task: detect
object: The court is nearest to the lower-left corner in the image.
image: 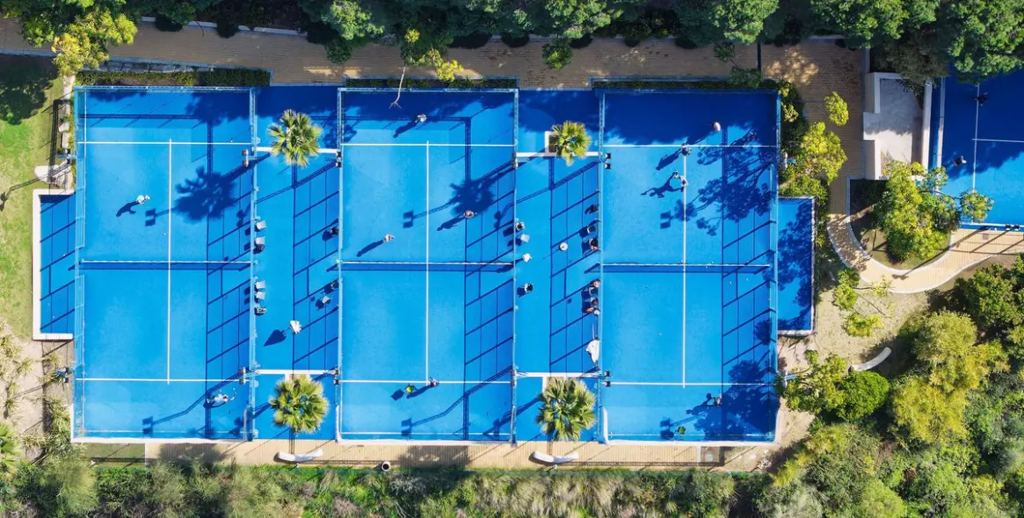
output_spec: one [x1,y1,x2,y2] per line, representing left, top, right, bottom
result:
[68,84,262,445]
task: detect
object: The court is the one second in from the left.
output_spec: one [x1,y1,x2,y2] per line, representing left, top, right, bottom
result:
[334,86,520,446]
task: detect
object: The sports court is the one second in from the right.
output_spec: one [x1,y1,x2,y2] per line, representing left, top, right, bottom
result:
[591,87,784,448]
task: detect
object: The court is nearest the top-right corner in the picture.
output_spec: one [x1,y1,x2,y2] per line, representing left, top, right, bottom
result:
[928,46,1024,228]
